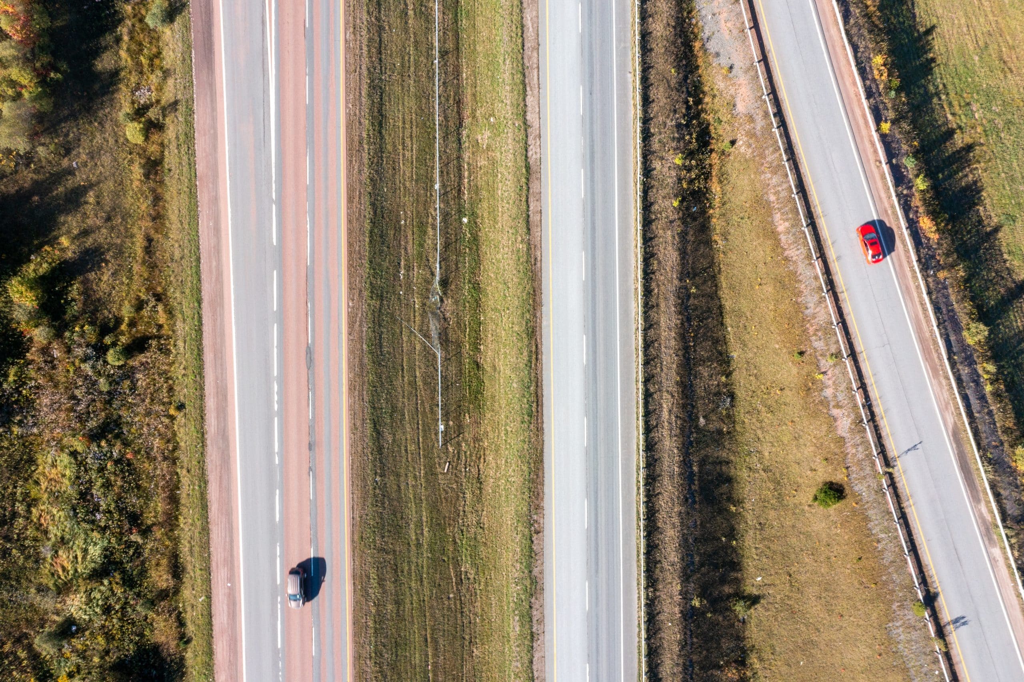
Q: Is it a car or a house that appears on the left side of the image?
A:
car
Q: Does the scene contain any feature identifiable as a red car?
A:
Yes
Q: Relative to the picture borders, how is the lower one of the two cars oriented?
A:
from top to bottom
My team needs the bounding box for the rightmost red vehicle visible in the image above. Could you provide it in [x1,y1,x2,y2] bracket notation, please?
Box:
[859,221,887,263]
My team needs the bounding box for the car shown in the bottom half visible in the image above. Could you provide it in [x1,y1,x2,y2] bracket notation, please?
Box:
[284,569,306,611]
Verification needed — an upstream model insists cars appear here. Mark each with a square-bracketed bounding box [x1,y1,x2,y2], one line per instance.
[859,221,887,263]
[284,569,306,611]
